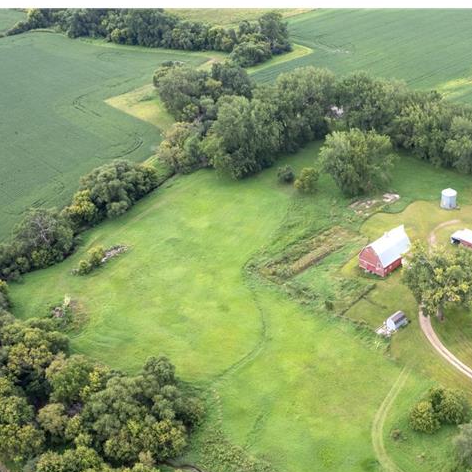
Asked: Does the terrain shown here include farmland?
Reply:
Yes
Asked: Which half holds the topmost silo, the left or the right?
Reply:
right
